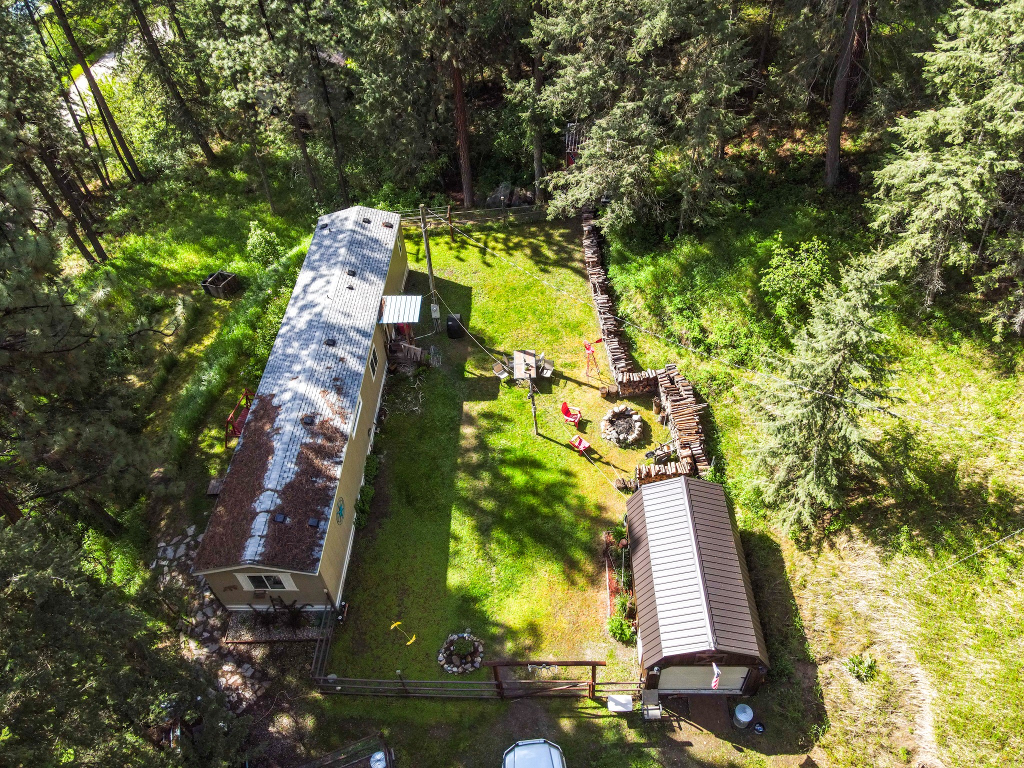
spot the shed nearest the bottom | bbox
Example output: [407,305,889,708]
[624,476,772,690]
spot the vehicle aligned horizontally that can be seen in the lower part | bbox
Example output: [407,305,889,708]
[503,741,566,768]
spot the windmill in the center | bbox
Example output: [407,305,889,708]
[586,346,613,387]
